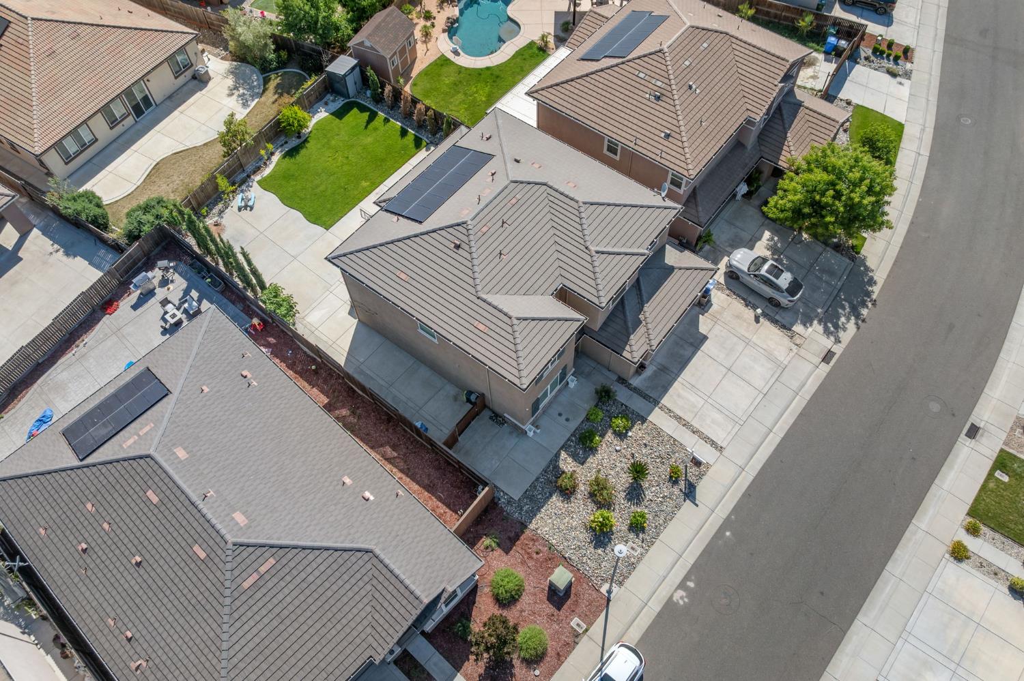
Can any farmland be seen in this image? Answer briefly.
No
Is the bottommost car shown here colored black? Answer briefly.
No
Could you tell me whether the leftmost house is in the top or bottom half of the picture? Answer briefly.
top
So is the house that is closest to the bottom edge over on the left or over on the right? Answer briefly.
left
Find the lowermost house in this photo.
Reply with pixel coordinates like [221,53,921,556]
[0,302,485,681]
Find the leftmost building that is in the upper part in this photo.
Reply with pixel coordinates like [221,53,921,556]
[0,178,38,243]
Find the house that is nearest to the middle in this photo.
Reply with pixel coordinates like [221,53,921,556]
[326,108,722,435]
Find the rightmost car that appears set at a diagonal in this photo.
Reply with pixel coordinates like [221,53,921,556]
[724,250,808,313]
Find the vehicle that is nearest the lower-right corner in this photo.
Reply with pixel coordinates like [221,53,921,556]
[580,639,646,681]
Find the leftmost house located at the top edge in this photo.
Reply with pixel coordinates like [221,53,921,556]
[0,0,206,178]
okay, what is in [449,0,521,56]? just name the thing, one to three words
swimming pool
